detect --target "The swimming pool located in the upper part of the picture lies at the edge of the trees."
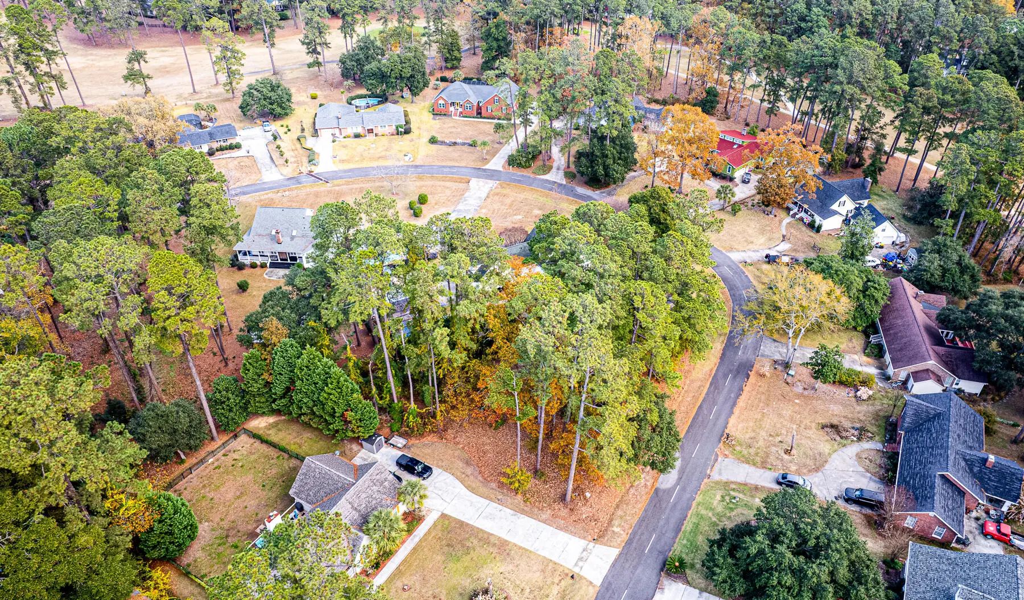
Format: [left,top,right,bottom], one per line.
[349,95,384,113]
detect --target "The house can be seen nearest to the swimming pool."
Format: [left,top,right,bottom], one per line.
[314,103,407,138]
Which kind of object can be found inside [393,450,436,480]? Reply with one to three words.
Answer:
truck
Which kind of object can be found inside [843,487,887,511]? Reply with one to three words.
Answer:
car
